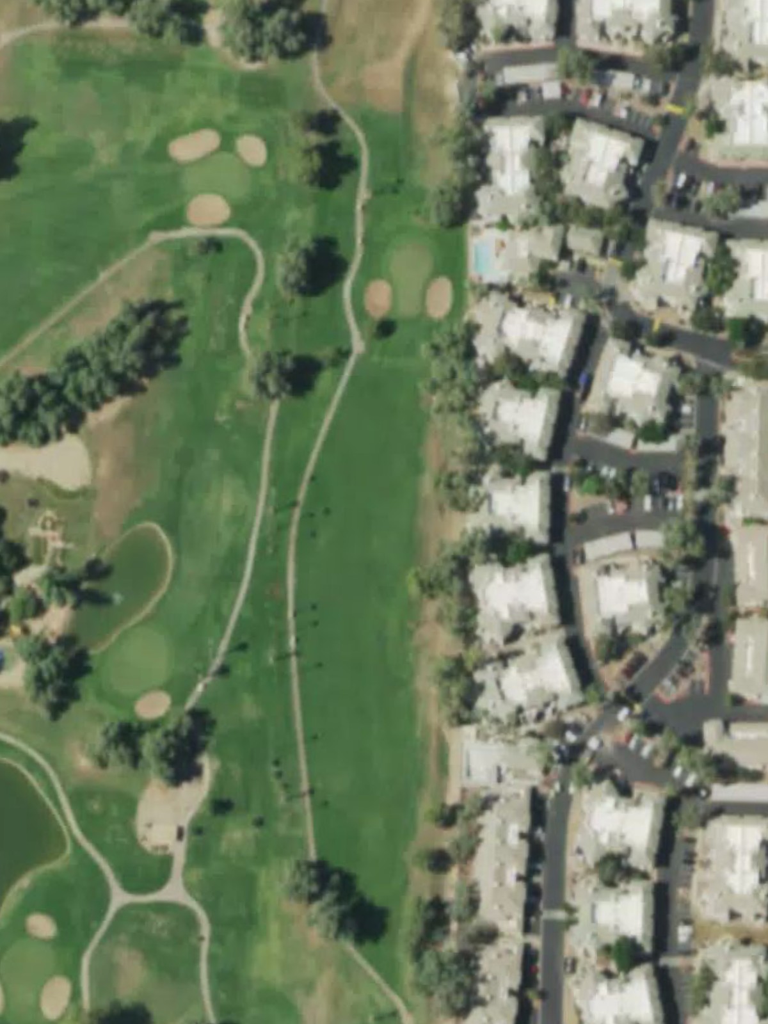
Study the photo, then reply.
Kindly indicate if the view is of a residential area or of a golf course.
golf course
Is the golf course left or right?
left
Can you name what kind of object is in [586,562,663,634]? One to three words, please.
building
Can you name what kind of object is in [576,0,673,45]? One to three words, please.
building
